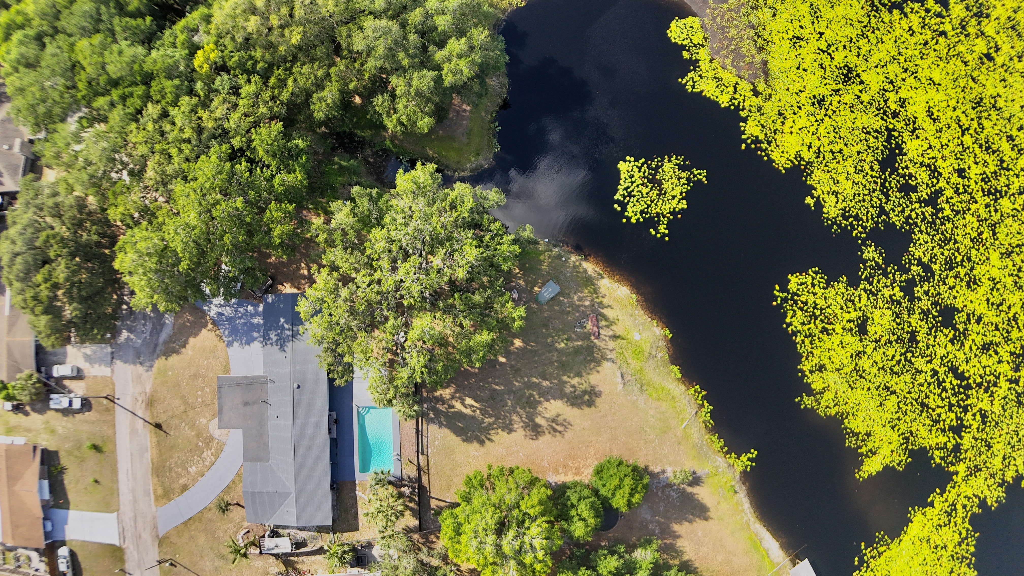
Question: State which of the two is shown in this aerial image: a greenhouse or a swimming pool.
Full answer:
It is a swimming pool that can be seen here.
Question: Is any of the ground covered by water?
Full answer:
Yes, the picture does contain water.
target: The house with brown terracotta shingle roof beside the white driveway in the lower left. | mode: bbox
[0,444,56,548]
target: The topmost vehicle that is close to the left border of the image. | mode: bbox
[50,364,82,378]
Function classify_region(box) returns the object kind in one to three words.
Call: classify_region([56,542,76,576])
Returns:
vehicle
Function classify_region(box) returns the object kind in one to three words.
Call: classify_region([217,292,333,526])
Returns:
house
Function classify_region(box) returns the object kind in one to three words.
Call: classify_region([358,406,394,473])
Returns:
swimming pool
